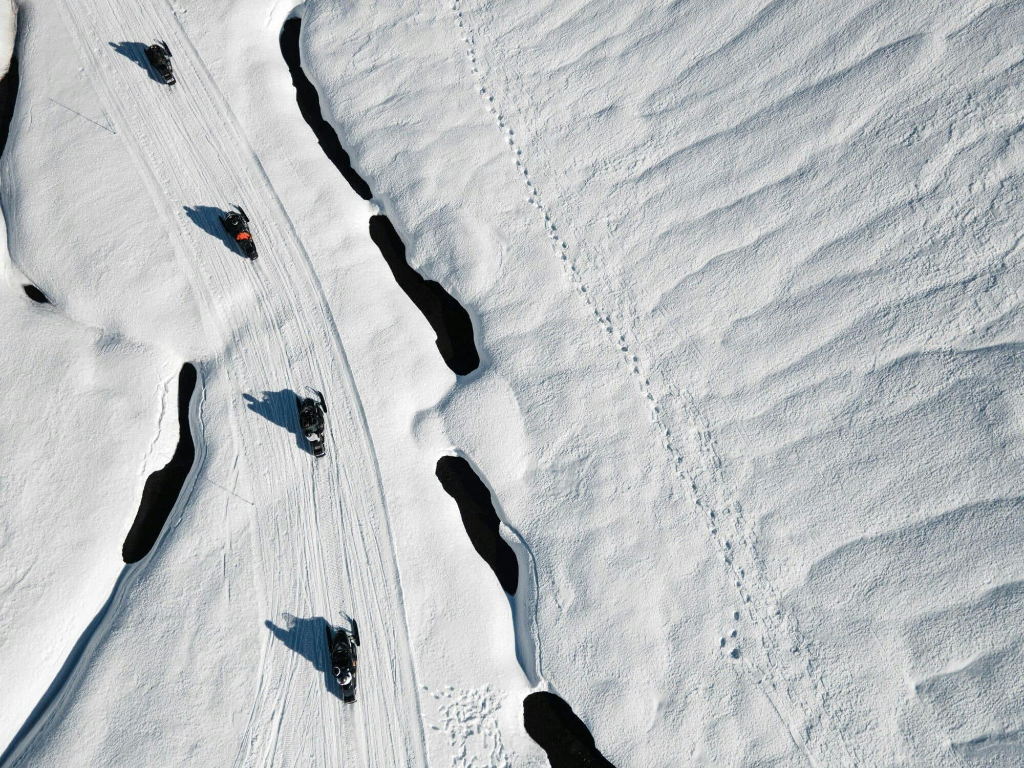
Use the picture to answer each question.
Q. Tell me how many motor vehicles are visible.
4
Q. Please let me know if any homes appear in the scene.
No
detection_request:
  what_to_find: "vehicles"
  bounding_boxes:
[326,617,363,706]
[294,390,329,459]
[216,203,257,258]
[143,40,177,87]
